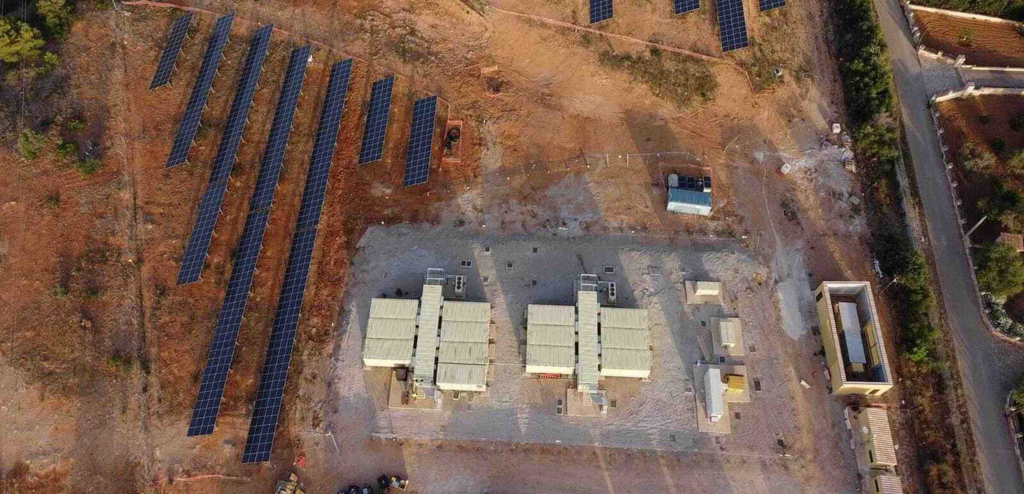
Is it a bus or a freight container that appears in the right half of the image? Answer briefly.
freight container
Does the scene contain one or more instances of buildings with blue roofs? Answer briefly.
Yes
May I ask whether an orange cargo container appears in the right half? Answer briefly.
No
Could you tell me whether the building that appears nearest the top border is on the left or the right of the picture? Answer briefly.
right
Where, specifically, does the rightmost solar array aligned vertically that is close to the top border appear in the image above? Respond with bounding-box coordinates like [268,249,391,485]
[716,0,748,53]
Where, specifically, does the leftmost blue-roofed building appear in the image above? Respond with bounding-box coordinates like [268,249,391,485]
[667,189,711,215]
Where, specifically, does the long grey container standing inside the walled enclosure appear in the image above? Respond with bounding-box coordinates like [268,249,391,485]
[833,302,868,377]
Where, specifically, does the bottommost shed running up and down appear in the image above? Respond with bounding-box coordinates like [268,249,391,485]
[860,409,897,469]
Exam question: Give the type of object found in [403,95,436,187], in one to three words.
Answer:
solar array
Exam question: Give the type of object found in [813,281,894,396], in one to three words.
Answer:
building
